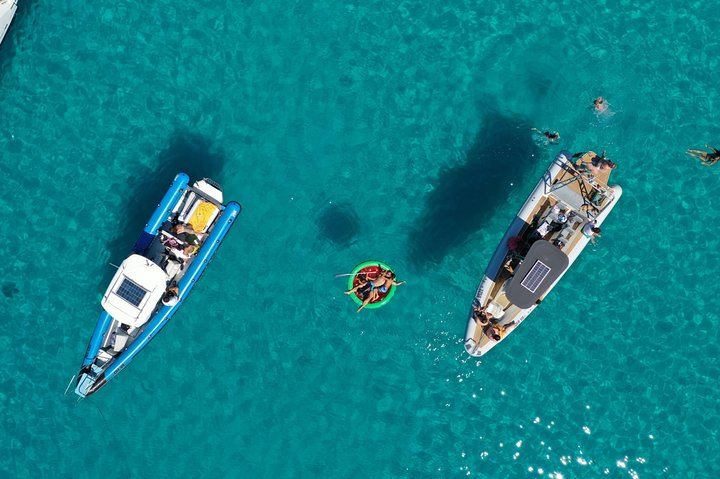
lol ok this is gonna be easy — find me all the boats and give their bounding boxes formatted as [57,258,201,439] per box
[65,174,241,402]
[0,0,22,43]
[461,152,617,357]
